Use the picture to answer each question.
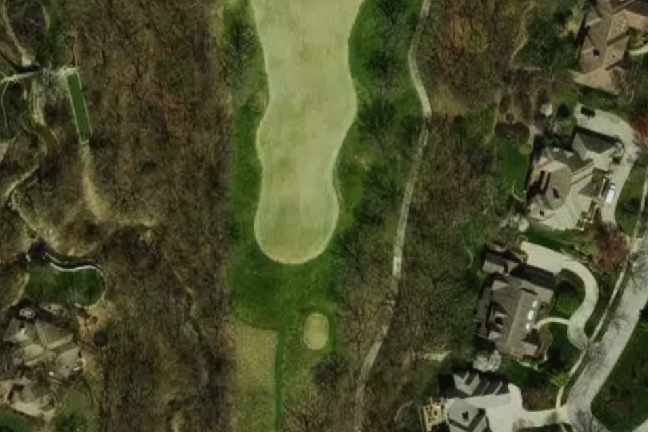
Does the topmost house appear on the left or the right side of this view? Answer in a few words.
right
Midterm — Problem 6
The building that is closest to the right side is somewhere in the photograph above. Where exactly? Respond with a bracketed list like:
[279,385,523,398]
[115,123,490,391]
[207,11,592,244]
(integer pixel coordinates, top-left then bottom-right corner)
[577,0,648,91]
